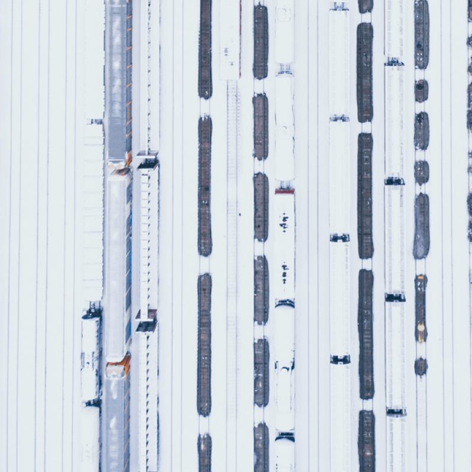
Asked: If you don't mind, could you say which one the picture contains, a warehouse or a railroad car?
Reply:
railroad car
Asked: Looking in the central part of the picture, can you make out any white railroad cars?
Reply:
Yes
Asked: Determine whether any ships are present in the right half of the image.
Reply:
No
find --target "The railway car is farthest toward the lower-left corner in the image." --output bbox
[79,398,103,472]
